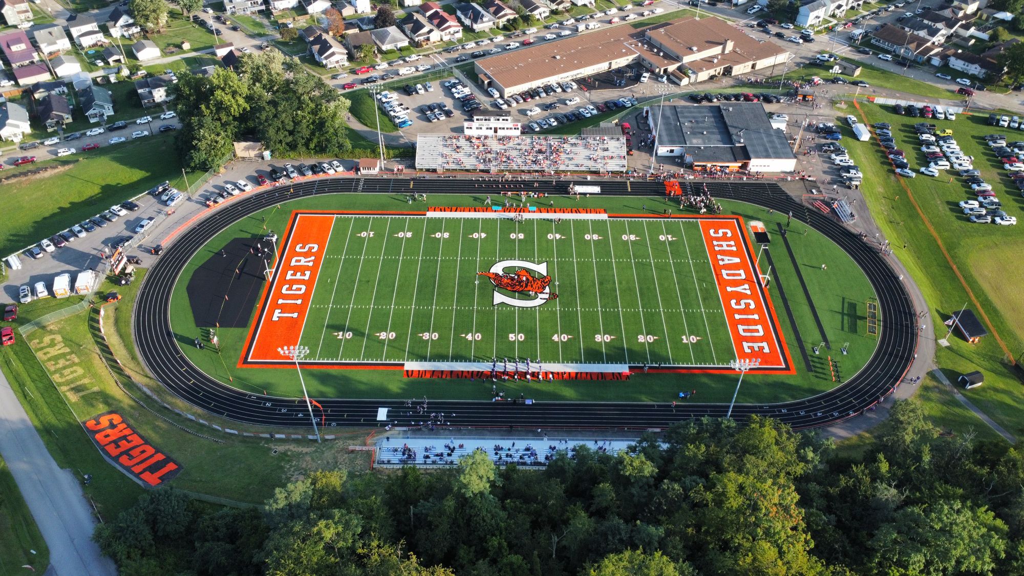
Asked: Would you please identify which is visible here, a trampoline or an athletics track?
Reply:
athletics track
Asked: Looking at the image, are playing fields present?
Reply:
Yes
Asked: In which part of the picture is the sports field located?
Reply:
center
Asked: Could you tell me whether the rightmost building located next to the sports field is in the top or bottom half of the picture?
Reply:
top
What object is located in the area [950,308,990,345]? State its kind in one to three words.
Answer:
shed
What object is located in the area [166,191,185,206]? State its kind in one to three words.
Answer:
car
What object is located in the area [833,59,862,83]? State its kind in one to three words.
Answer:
house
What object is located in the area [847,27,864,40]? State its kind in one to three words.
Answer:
vehicle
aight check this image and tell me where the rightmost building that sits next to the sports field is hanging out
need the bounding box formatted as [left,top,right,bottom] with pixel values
[649,101,797,172]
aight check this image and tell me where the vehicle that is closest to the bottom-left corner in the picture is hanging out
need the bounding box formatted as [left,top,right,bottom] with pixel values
[1,326,16,347]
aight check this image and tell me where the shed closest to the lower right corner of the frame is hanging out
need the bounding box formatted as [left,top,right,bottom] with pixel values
[955,370,988,394]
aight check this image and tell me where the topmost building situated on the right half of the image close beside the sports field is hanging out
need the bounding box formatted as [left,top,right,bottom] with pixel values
[473,11,791,97]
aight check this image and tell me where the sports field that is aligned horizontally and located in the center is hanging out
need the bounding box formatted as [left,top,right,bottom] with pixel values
[294,215,738,366]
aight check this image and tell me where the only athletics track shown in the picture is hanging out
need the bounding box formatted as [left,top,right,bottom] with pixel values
[138,177,913,434]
